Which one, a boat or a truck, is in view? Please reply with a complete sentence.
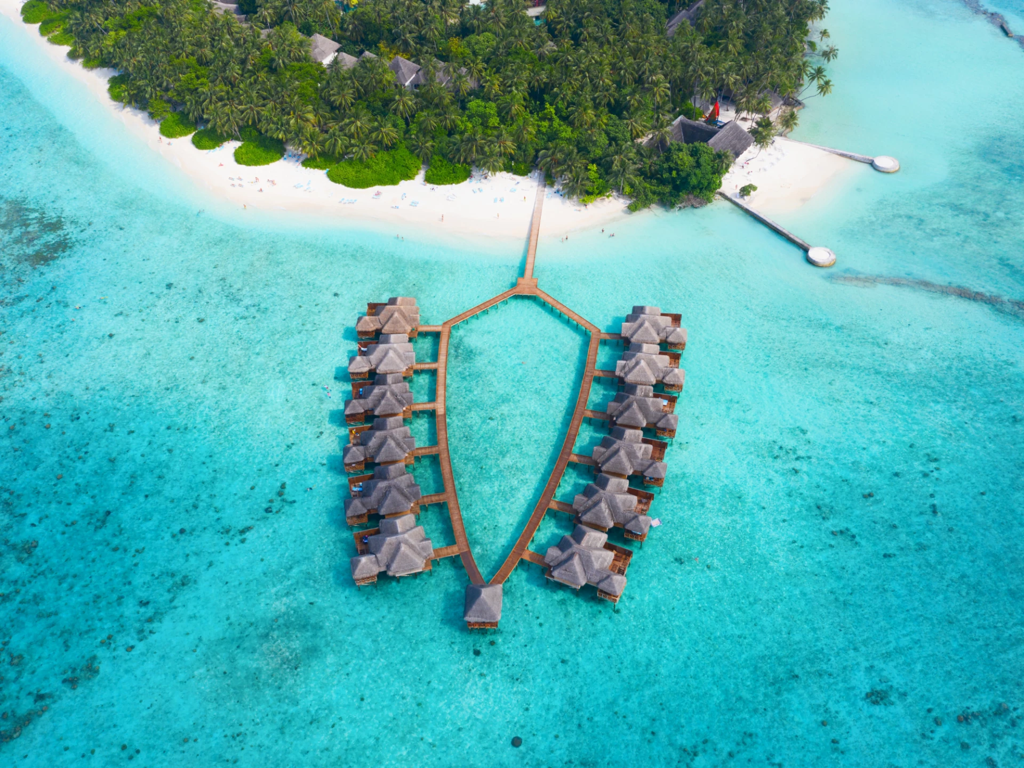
There is a boat in the scene.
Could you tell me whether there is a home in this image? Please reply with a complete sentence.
Yes, the photo shows a home.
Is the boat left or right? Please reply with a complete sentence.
The boat appears in the right half of the scene.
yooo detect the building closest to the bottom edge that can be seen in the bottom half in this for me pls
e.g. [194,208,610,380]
[463,584,504,636]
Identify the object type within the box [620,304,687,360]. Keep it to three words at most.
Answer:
house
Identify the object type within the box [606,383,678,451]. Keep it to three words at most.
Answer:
house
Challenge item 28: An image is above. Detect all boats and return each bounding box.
[706,94,730,124]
